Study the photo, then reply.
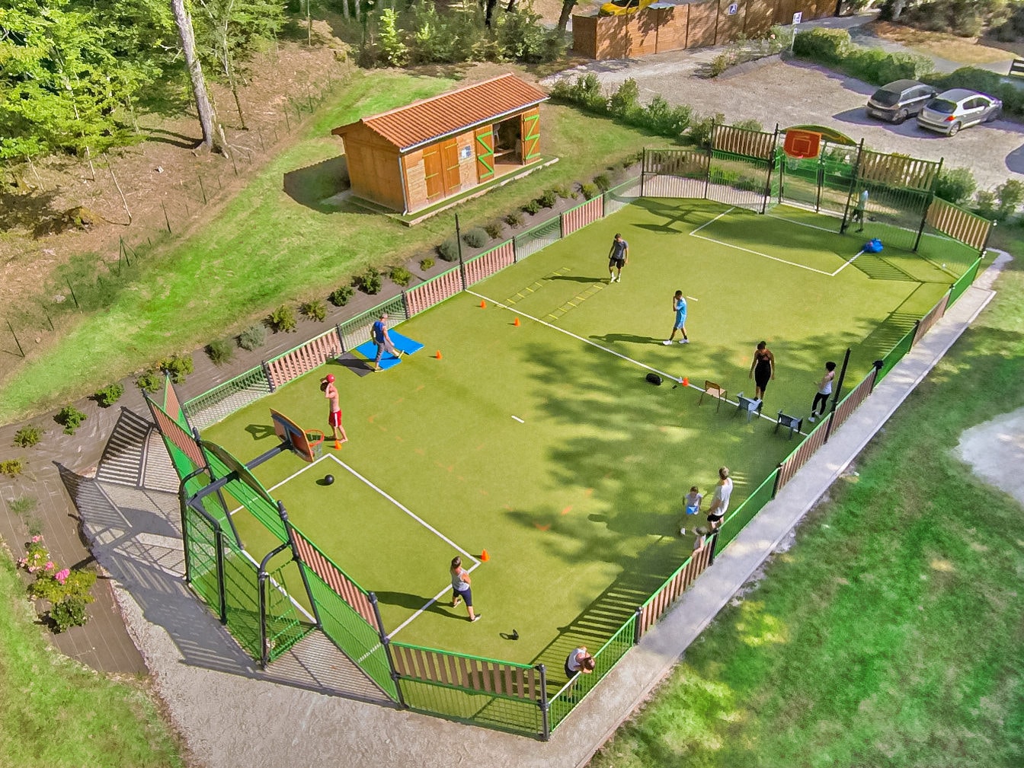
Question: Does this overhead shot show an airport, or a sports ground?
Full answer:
This looks like a sports ground.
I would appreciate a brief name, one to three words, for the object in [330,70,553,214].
shed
